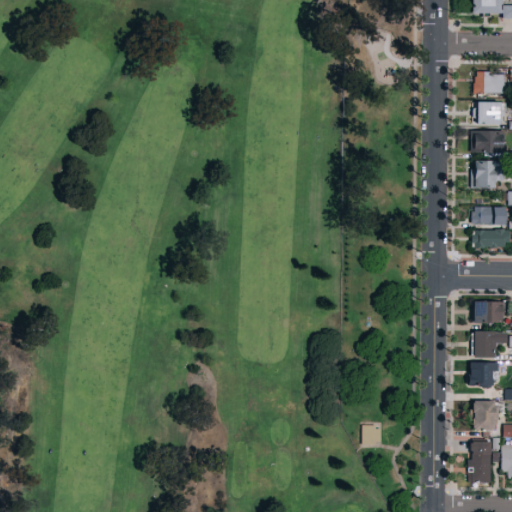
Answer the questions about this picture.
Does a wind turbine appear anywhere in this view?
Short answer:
No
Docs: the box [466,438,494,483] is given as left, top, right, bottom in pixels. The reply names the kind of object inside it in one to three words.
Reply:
building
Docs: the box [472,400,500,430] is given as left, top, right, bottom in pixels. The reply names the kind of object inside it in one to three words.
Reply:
house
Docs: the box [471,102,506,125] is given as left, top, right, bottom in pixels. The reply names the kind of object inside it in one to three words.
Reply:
house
